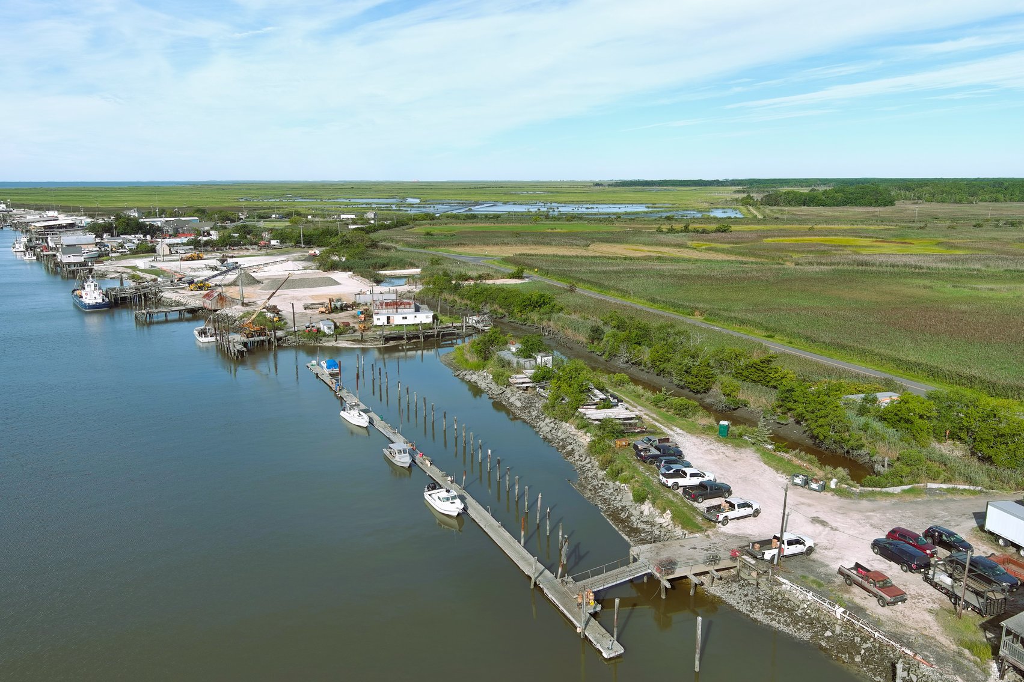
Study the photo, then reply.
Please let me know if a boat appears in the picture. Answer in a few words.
Yes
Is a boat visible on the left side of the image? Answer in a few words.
Yes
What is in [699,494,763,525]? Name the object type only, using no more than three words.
truck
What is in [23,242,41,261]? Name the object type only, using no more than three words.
boat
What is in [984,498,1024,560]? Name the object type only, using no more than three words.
vehicle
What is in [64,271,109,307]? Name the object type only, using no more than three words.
boat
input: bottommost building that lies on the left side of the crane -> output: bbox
[200,291,240,311]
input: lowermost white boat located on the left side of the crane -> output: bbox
[195,323,218,345]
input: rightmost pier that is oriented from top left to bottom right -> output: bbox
[308,363,624,659]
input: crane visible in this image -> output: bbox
[236,273,294,340]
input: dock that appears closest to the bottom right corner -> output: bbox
[629,533,743,603]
